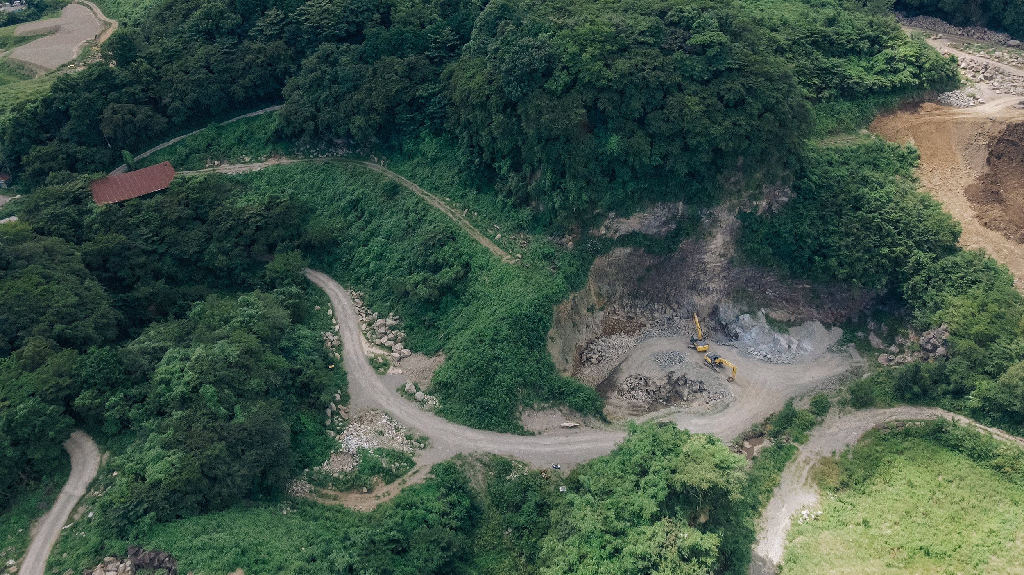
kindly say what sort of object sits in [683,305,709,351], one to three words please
work vehicle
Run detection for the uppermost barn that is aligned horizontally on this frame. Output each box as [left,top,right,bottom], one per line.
[91,160,181,215]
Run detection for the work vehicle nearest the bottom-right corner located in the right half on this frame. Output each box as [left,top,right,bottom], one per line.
[701,351,740,379]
